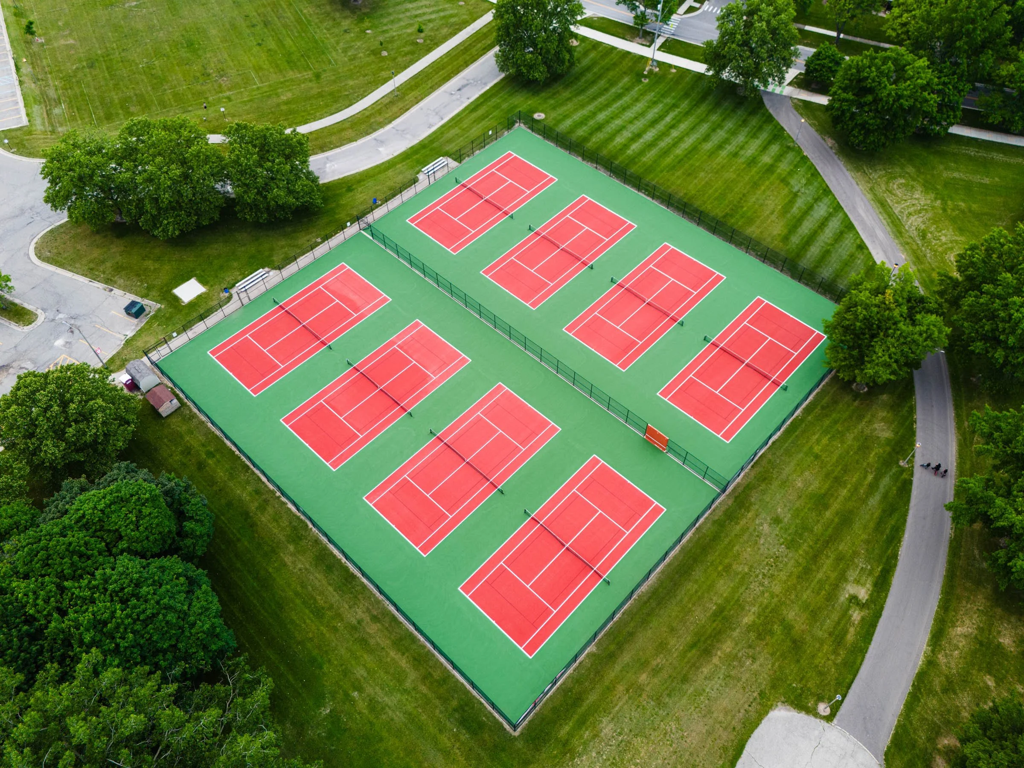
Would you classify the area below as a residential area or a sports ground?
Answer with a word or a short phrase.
sports ground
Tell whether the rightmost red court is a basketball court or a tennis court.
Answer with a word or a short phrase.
tennis court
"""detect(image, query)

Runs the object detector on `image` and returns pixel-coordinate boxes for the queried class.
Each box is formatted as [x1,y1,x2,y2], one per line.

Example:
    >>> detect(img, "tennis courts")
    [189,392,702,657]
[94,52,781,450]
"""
[658,297,825,442]
[480,194,637,309]
[363,382,562,557]
[564,243,726,371]
[281,319,471,471]
[458,455,666,657]
[209,262,391,396]
[406,151,558,254]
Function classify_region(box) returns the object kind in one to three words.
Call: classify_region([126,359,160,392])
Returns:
shed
